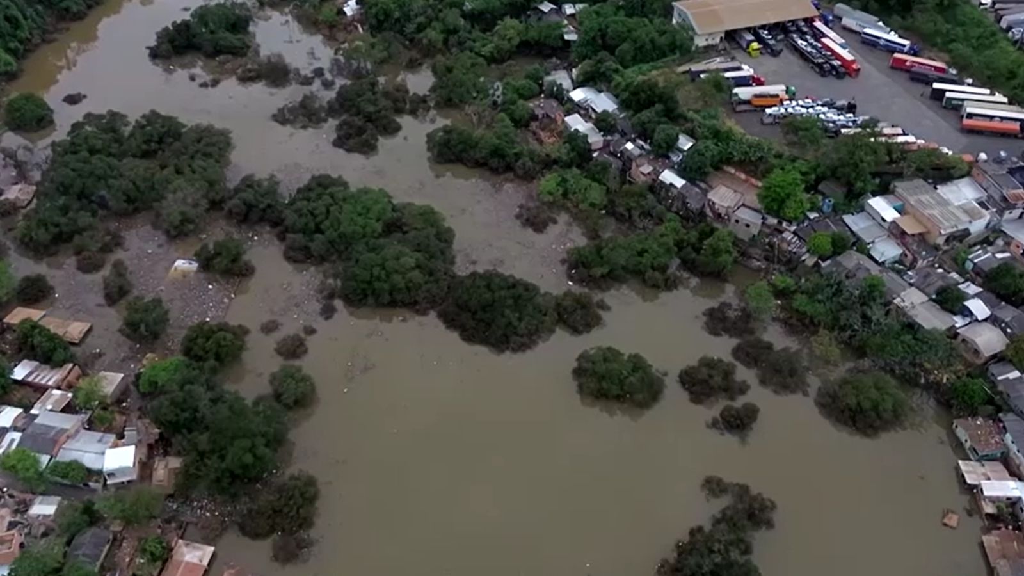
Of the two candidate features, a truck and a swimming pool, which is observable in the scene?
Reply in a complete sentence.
I can see a truck in this picture.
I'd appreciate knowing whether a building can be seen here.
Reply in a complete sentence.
Yes, there's a building down there.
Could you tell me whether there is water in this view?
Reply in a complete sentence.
Yes, water shows up in the scene.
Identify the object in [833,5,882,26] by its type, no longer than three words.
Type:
truck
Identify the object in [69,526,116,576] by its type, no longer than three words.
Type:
house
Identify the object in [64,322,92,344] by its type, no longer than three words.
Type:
house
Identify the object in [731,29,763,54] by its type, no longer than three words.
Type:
truck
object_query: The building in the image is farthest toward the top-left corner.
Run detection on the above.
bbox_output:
[0,183,39,215]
